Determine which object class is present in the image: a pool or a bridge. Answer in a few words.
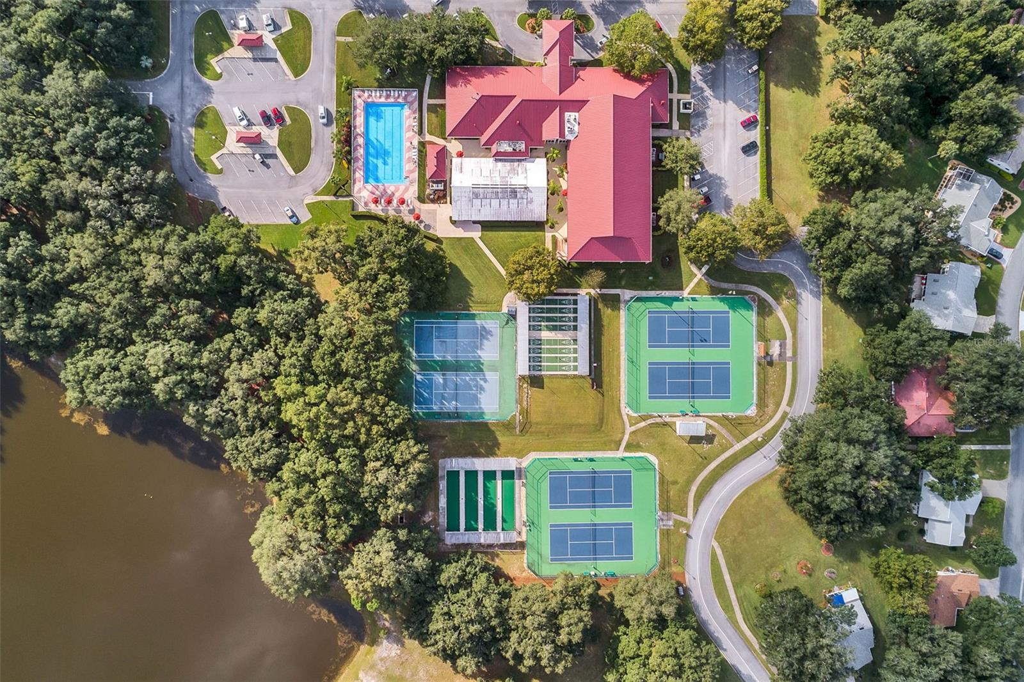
pool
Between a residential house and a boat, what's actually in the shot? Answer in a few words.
residential house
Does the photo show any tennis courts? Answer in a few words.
Yes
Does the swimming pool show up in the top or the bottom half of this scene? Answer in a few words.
top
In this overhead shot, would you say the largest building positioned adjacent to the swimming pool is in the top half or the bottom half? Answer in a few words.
top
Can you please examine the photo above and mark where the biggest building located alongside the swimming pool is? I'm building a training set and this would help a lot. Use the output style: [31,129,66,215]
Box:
[445,19,669,265]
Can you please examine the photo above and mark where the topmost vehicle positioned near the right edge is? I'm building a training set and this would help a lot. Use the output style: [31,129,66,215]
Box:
[988,247,1003,259]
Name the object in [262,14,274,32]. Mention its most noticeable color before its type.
white vehicle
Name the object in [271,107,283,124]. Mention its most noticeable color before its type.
red vehicle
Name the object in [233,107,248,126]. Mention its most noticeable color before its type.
white vehicle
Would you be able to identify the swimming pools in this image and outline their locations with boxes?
[352,89,420,211]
